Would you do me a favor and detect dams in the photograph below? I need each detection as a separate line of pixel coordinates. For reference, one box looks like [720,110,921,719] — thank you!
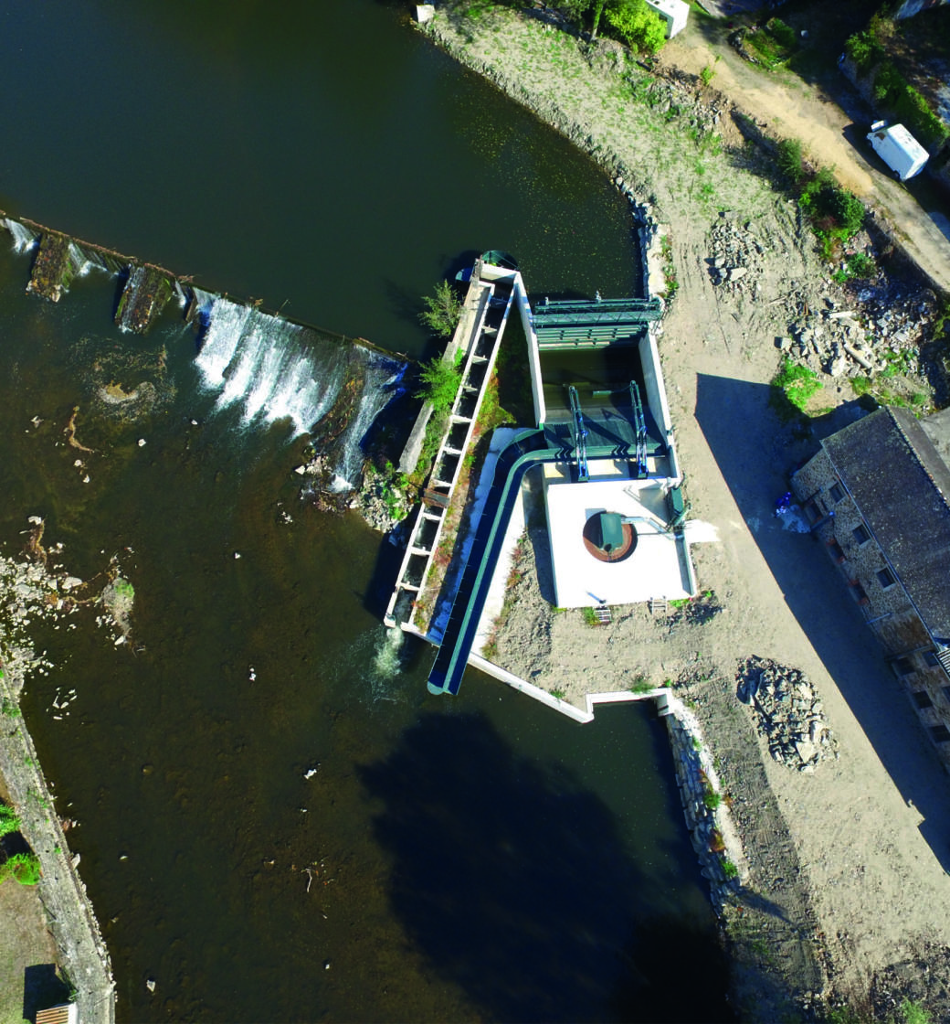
[0,212,413,505]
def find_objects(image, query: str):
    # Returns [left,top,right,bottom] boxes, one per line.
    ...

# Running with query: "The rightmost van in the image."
[870,124,930,179]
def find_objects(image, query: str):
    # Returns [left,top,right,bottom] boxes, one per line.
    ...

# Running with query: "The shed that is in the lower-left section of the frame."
[34,995,89,1024]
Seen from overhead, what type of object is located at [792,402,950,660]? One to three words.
house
